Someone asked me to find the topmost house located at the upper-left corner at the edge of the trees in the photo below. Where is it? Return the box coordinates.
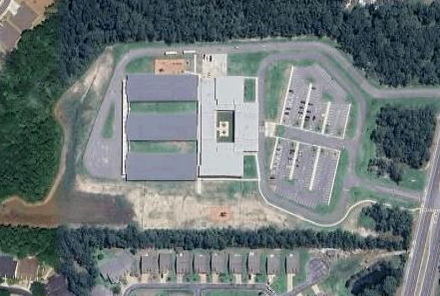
[10,2,36,29]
